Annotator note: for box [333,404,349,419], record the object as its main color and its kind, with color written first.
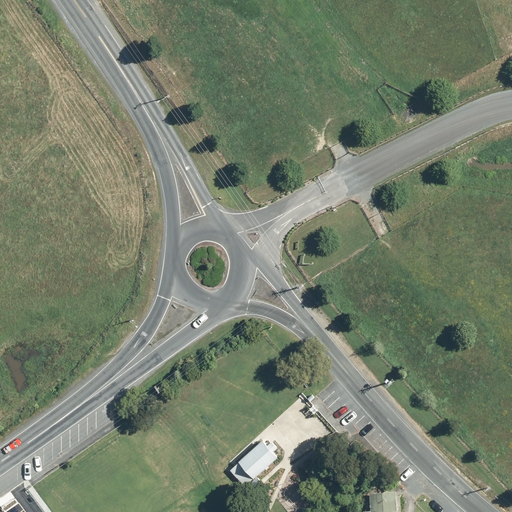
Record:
red car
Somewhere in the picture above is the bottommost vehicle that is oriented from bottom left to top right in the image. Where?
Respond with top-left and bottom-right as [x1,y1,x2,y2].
[400,466,416,482]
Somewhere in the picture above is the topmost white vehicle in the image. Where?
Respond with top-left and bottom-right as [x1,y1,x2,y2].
[192,313,208,329]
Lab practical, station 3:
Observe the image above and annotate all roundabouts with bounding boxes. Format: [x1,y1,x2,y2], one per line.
[172,224,243,307]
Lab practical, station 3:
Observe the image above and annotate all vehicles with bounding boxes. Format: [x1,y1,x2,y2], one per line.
[428,499,444,512]
[400,466,416,482]
[333,404,349,419]
[340,410,358,426]
[192,313,208,329]
[359,422,374,438]
[3,438,22,455]
[34,456,42,472]
[24,463,32,480]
